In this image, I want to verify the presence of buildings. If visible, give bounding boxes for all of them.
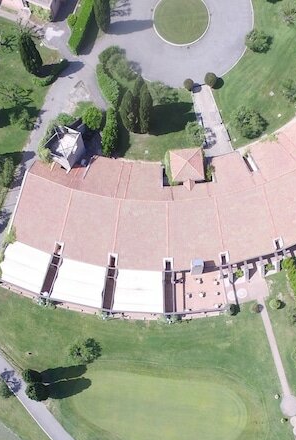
[11,125,296,276]
[27,0,64,20]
